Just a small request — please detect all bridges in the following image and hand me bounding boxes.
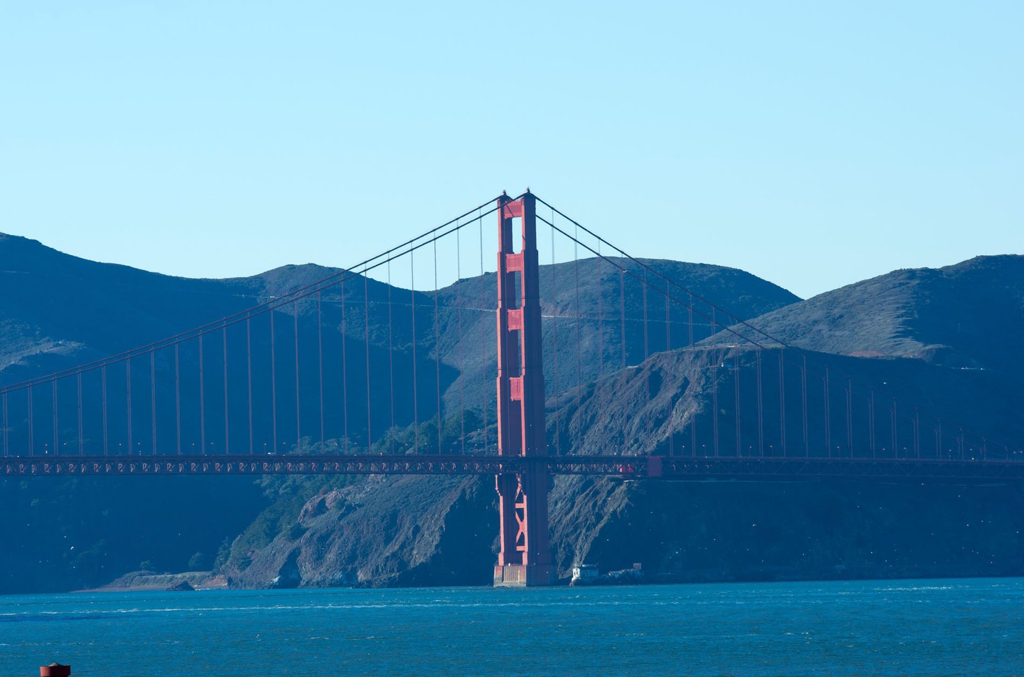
[0,186,1024,588]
